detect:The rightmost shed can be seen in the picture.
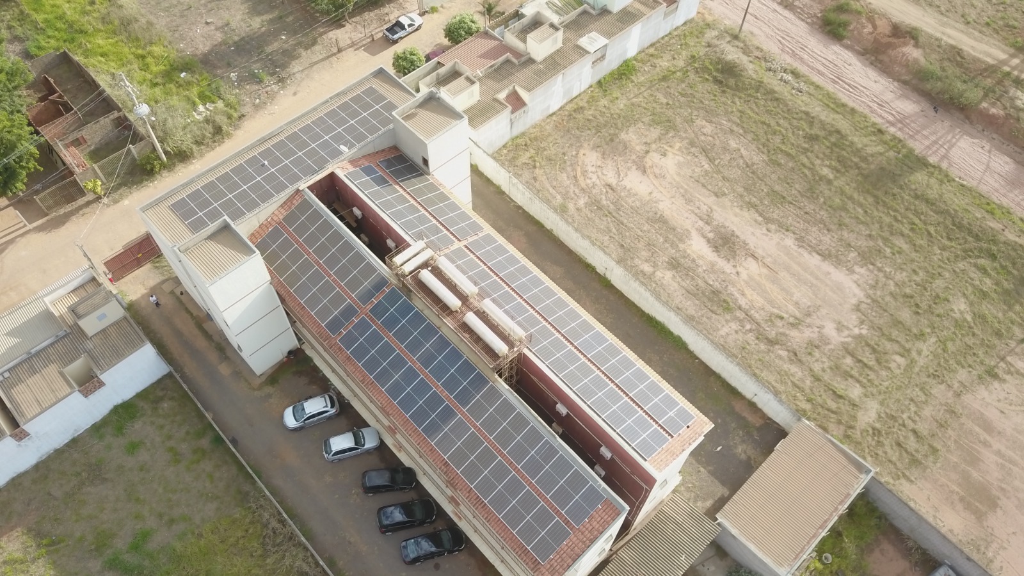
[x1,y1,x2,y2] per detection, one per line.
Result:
[700,417,876,576]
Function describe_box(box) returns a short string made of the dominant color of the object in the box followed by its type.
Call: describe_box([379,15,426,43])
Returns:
white truck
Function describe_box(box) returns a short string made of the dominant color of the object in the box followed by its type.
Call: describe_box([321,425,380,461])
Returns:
gray car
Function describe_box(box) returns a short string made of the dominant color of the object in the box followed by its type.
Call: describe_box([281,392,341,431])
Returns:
gray car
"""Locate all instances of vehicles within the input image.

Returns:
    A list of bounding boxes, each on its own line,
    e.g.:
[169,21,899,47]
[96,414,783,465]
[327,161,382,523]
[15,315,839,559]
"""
[374,496,438,534]
[281,392,341,431]
[379,15,426,43]
[321,425,380,461]
[359,462,419,497]
[423,44,464,67]
[397,527,466,568]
